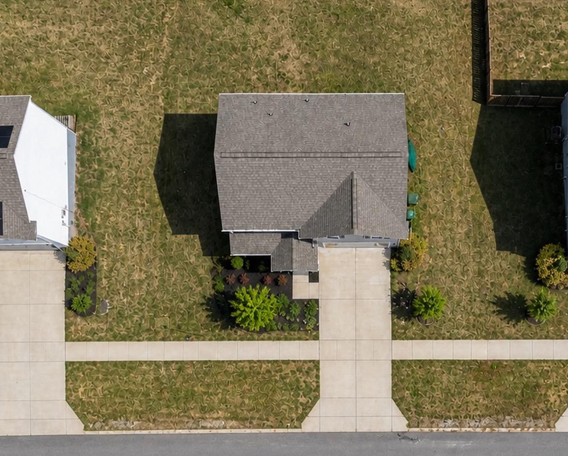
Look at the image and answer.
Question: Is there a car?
No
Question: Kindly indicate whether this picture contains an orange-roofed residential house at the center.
No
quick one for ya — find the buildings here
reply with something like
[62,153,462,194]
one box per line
[0,95,73,253]
[213,92,410,271]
